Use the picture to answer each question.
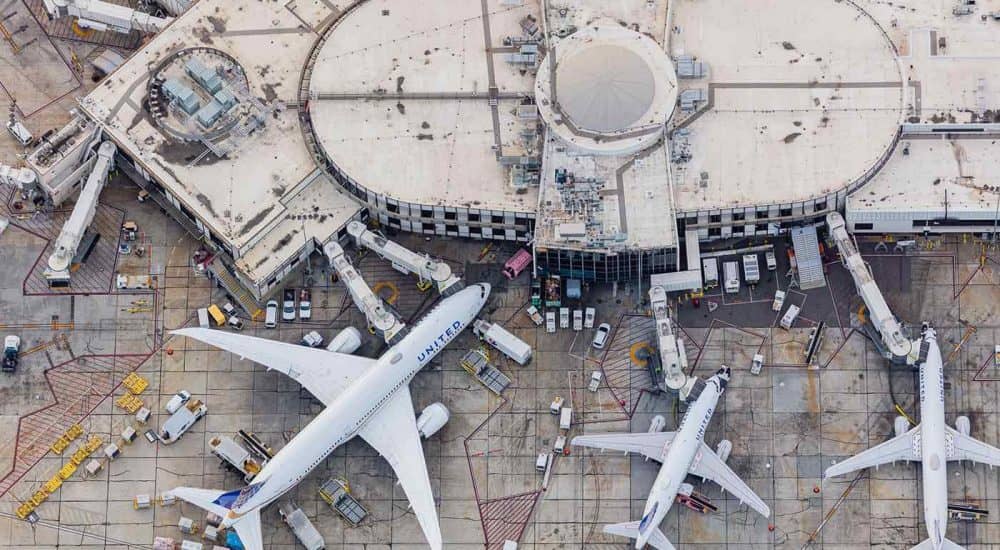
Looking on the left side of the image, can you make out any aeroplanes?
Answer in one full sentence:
Yes, I can see an aeroplane on the left side of the image.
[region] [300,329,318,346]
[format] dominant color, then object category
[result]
white work vehicle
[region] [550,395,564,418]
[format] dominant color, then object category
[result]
white vehicle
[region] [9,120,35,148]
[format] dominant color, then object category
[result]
white truck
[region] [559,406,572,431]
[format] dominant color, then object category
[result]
white vehicle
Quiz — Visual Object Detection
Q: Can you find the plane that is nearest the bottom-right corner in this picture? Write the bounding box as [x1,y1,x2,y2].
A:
[825,327,1000,550]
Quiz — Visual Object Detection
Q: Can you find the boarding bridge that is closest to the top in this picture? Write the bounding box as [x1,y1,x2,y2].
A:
[39,0,177,40]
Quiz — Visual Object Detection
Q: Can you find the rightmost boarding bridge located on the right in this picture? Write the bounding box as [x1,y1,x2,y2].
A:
[824,213,932,371]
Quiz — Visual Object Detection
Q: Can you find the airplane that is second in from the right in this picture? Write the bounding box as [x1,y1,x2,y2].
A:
[568,367,771,550]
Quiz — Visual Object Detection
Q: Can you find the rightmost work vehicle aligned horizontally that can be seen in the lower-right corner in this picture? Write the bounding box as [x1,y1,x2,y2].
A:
[947,503,990,520]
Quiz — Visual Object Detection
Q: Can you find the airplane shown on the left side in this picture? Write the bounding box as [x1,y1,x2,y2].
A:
[169,284,491,550]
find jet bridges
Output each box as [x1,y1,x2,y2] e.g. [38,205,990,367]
[46,139,119,297]
[347,219,467,300]
[646,271,708,411]
[322,240,418,342]
[39,0,177,40]
[824,213,932,371]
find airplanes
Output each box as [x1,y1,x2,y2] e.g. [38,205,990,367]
[825,327,1000,550]
[568,367,771,550]
[169,284,491,550]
